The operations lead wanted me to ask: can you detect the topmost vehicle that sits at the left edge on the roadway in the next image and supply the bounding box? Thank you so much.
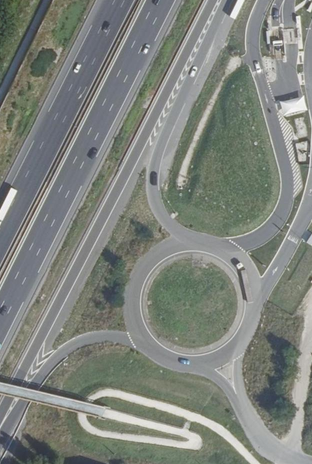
[0,189,16,225]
